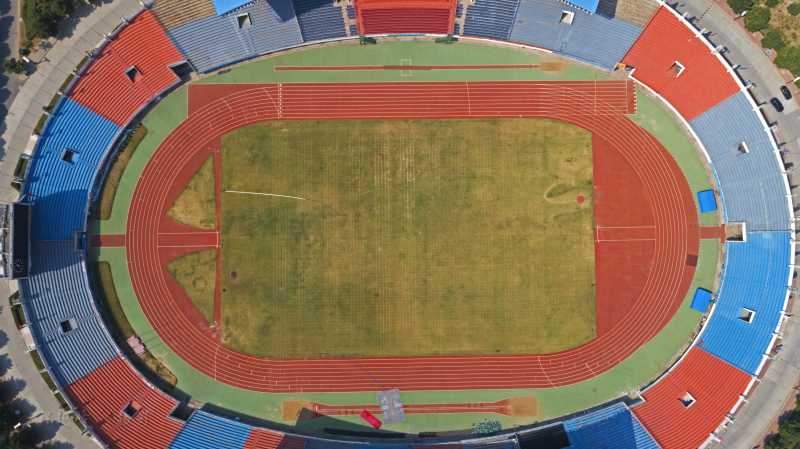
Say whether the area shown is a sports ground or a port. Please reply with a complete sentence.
This looks like a sports ground.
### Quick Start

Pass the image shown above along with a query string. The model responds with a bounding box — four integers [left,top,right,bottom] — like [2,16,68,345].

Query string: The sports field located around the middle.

[220,119,595,358]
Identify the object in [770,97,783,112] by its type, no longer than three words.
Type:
vehicle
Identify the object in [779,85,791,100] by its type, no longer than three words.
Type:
vehicle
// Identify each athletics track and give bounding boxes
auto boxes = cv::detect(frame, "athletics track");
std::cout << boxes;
[91,80,722,393]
